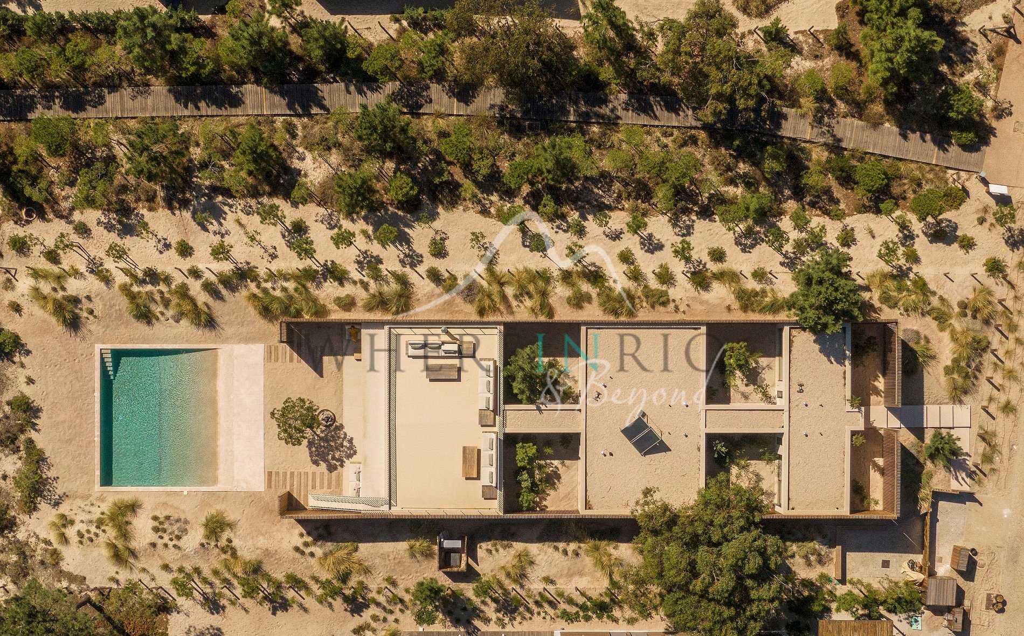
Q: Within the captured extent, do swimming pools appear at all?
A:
Yes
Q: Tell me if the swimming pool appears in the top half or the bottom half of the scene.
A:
bottom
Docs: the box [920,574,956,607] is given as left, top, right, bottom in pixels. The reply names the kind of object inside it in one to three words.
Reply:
shed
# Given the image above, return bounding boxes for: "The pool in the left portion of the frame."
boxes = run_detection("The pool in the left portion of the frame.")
[96,345,264,491]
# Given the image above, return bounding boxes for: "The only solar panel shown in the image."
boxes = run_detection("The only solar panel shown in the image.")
[620,408,661,455]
